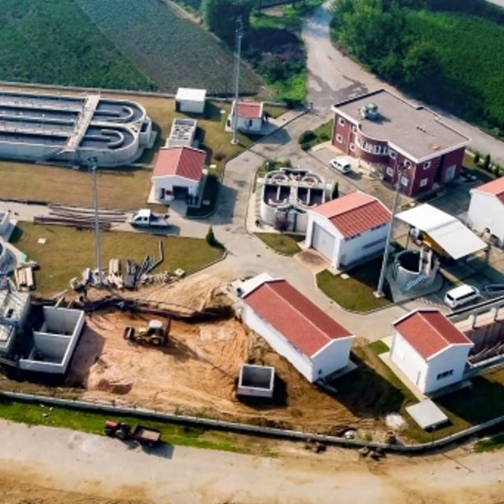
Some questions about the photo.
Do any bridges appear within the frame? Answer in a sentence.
Yes, the picture does show a bridge.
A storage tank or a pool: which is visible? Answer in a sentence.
I can see a storage tank in this picture.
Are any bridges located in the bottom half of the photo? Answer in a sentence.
No, the scene shows no bridge in the bottom half of the photo.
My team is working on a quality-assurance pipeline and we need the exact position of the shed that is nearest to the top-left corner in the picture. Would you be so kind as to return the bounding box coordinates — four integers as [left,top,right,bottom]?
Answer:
[176,90,205,113]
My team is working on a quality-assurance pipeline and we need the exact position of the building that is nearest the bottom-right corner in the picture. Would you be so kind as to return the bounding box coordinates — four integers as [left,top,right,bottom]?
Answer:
[390,307,474,393]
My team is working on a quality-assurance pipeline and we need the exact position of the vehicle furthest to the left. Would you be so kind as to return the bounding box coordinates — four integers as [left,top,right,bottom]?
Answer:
[101,419,131,441]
